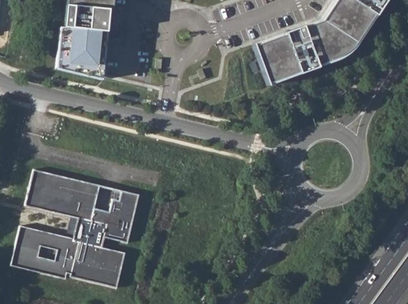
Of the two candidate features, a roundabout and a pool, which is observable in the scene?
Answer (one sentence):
Of the two, only a roundabout appears.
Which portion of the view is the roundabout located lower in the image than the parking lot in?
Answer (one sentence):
The roundabout located lower in the image than the parking lot sits in the right section of the image.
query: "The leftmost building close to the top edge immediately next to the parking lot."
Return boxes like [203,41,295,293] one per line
[52,0,117,81]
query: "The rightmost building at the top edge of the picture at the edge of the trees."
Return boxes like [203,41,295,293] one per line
[252,0,390,86]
